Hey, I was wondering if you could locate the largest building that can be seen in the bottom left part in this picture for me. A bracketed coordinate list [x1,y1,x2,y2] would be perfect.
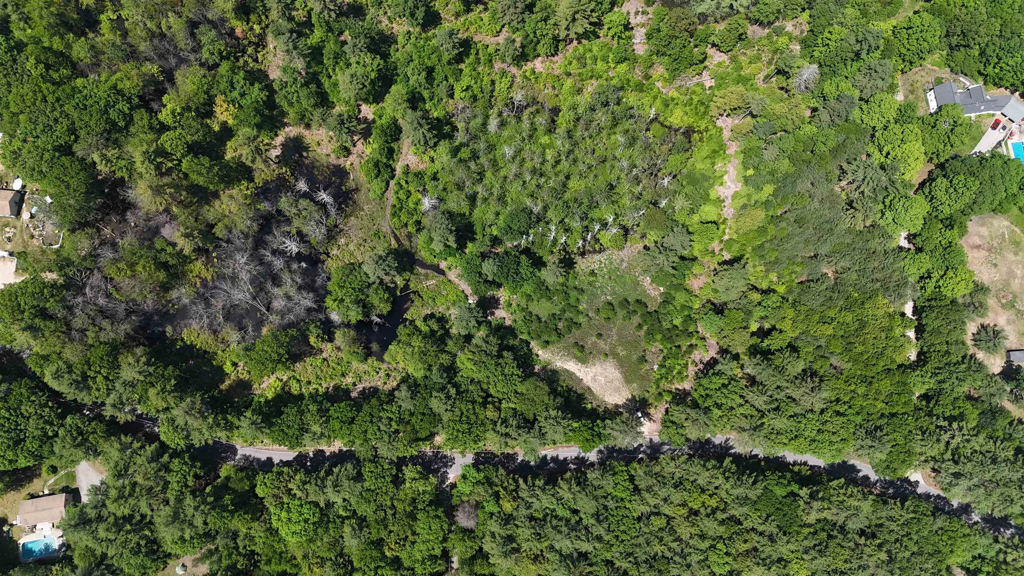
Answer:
[16,490,75,525]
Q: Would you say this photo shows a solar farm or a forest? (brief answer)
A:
forest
